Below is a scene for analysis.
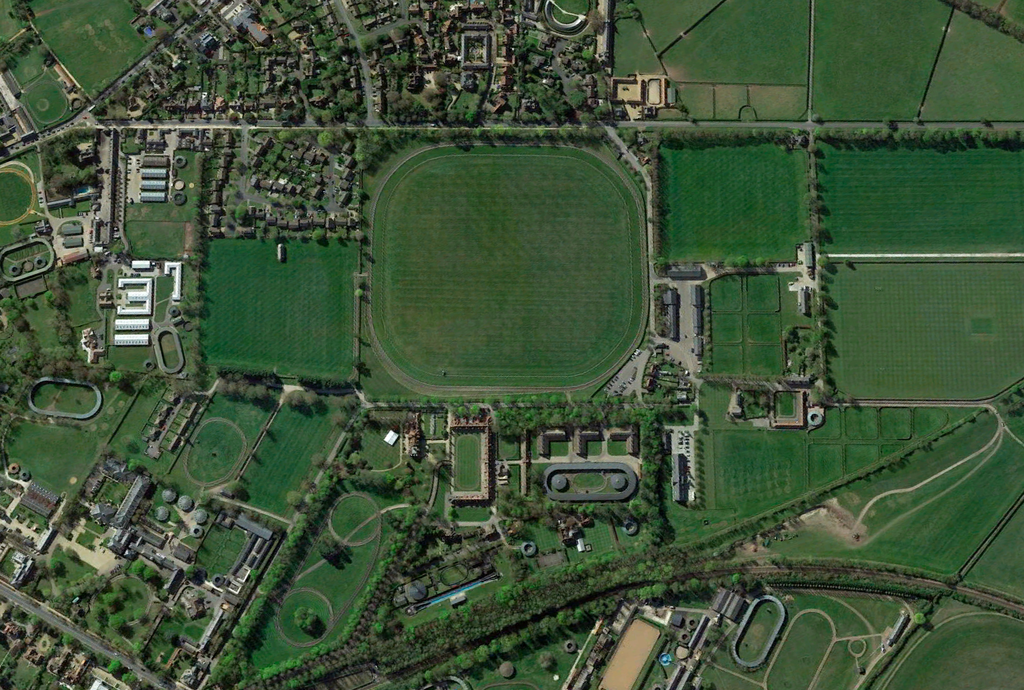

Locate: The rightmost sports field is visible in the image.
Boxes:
[828,263,1024,399]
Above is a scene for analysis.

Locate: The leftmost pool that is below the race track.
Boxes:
[406,575,500,616]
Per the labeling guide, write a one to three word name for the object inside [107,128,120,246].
building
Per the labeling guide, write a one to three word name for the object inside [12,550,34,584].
house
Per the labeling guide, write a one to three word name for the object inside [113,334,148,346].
barn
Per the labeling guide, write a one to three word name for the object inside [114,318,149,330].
barn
